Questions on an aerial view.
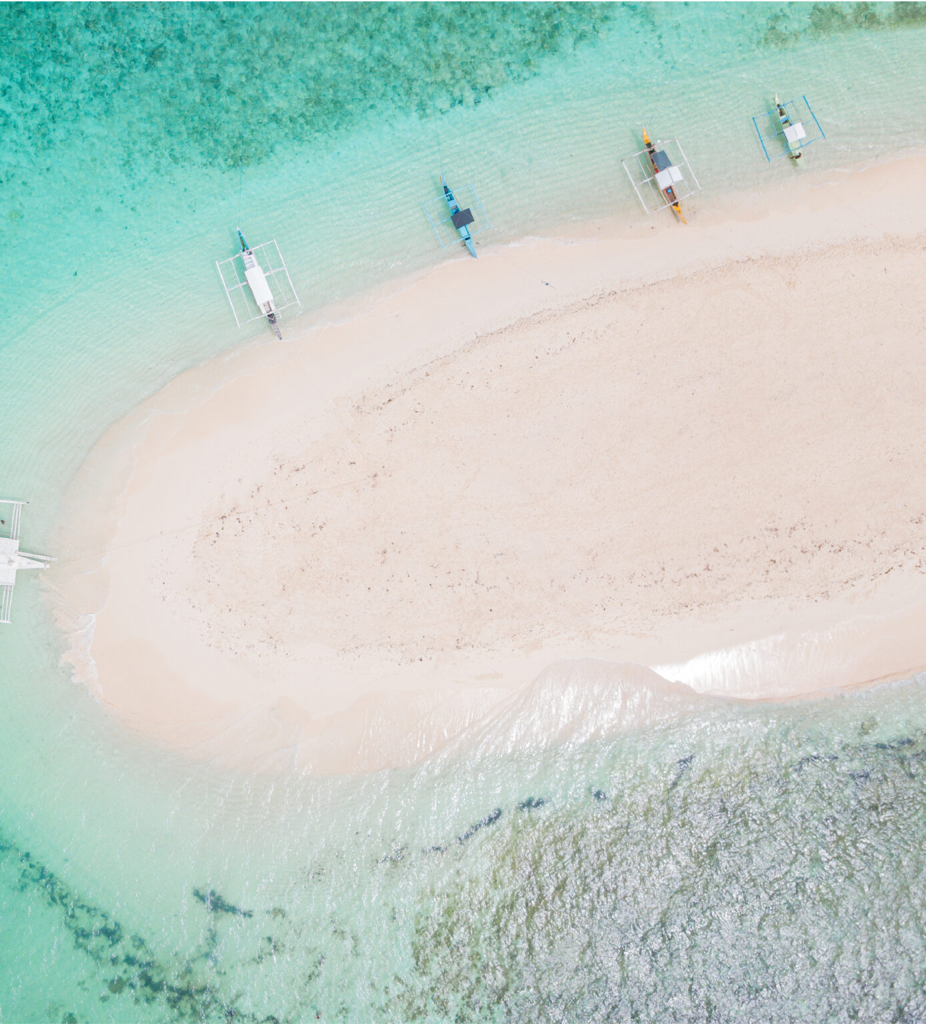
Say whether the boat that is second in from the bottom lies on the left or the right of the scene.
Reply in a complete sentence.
It is on the left.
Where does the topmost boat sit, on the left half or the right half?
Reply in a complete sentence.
The topmost boat is on the right side of the image.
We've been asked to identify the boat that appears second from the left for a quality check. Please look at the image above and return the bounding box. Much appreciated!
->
[216,228,301,339]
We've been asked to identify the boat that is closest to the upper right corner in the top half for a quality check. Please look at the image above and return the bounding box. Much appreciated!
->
[753,93,826,170]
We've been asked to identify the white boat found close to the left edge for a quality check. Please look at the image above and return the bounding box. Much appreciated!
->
[0,500,59,624]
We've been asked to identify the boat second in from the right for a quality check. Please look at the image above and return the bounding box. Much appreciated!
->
[622,126,701,225]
